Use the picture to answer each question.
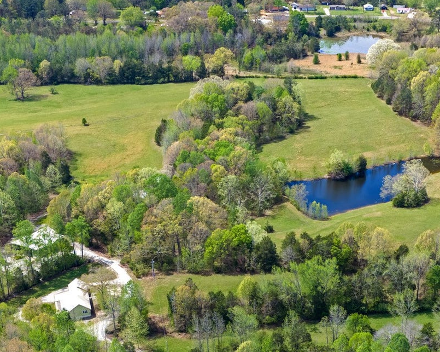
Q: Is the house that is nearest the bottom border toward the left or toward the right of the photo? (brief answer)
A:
left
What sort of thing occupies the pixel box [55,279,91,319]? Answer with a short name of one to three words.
house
